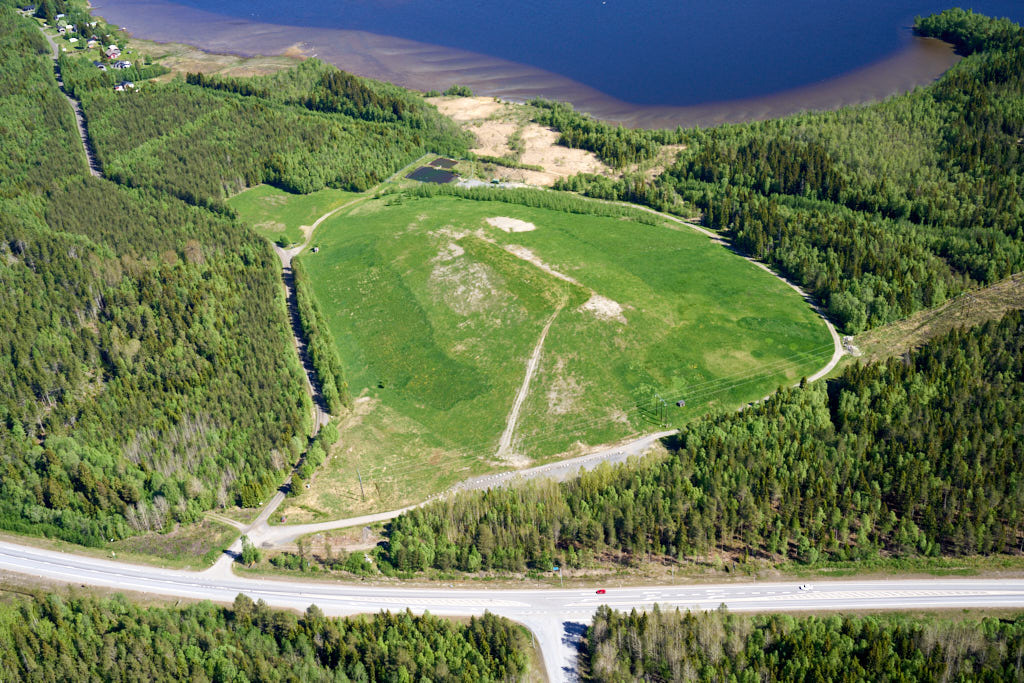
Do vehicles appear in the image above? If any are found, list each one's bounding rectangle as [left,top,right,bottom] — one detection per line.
[799,583,813,590]
[596,588,606,594]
